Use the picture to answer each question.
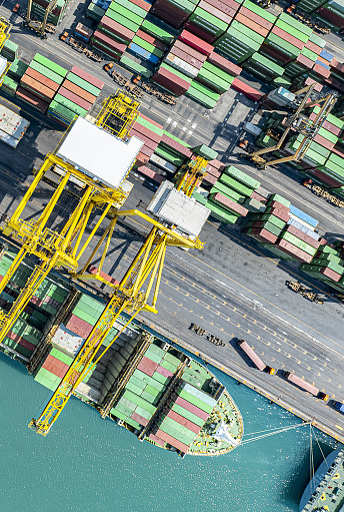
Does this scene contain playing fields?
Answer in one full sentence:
No, there is no playing field in the image.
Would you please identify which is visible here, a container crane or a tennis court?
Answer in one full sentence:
The one in the frame is a container crane.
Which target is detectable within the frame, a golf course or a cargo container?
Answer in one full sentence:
The one in the frame is a cargo container.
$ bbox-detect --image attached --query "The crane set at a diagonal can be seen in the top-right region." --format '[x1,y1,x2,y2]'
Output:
[245,81,343,168]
